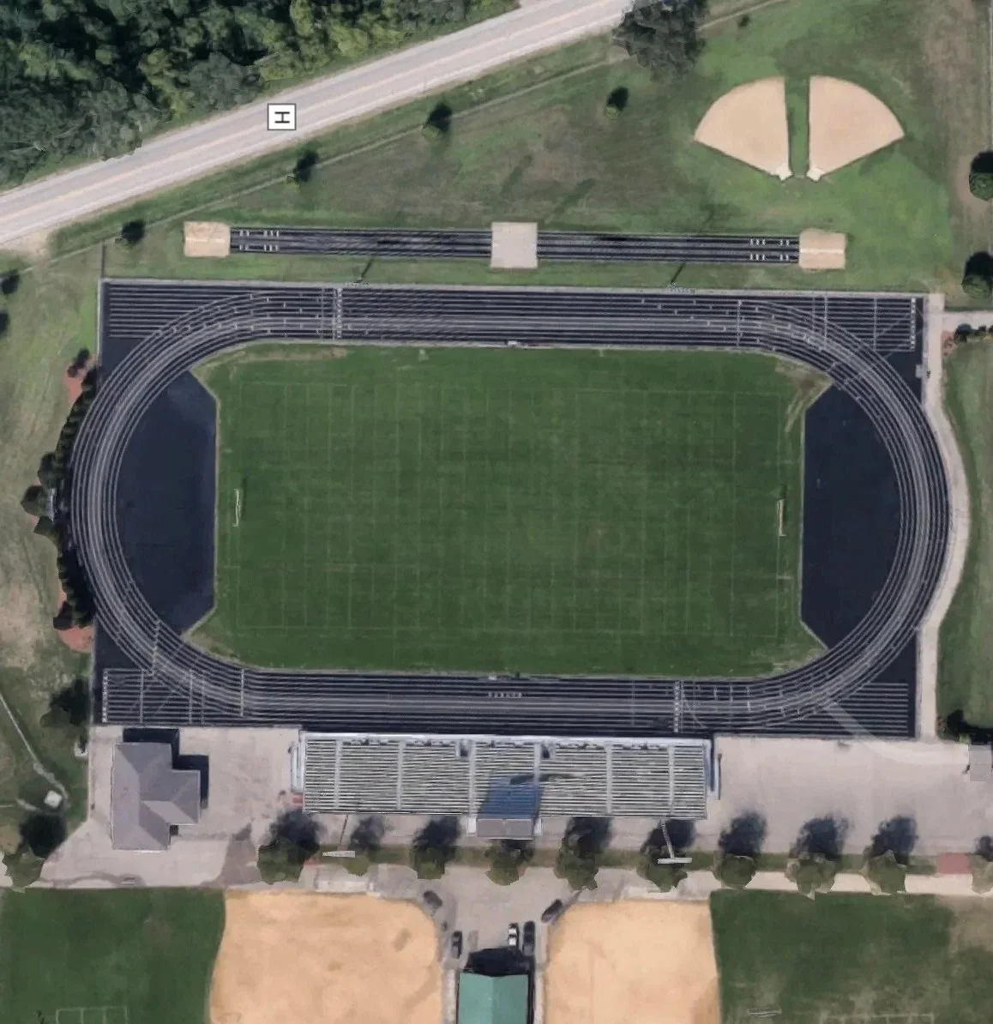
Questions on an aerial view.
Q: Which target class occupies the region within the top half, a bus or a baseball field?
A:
baseball field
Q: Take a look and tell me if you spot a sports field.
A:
Yes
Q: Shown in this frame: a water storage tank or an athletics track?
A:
athletics track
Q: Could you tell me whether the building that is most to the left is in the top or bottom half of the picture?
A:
bottom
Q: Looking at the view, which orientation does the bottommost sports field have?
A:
horizontally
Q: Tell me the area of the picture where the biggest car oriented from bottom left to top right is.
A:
bottom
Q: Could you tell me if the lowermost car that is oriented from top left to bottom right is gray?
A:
Yes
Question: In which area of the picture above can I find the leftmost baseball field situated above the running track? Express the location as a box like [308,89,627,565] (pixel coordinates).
[694,77,791,181]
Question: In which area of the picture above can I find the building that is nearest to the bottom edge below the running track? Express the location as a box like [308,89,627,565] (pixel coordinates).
[459,967,529,1024]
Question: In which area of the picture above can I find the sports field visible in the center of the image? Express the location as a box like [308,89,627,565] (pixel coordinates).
[184,344,831,678]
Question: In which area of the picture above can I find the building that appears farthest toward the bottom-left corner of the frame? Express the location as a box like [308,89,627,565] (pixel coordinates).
[112,740,200,850]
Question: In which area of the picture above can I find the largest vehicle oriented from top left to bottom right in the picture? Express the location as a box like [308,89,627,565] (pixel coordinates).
[422,888,444,910]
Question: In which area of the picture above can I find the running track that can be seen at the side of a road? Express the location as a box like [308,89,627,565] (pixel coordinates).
[61,285,952,737]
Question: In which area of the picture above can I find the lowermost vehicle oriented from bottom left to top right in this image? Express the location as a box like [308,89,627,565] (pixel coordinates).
[542,898,564,921]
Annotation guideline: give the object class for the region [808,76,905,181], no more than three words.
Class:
baseball field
